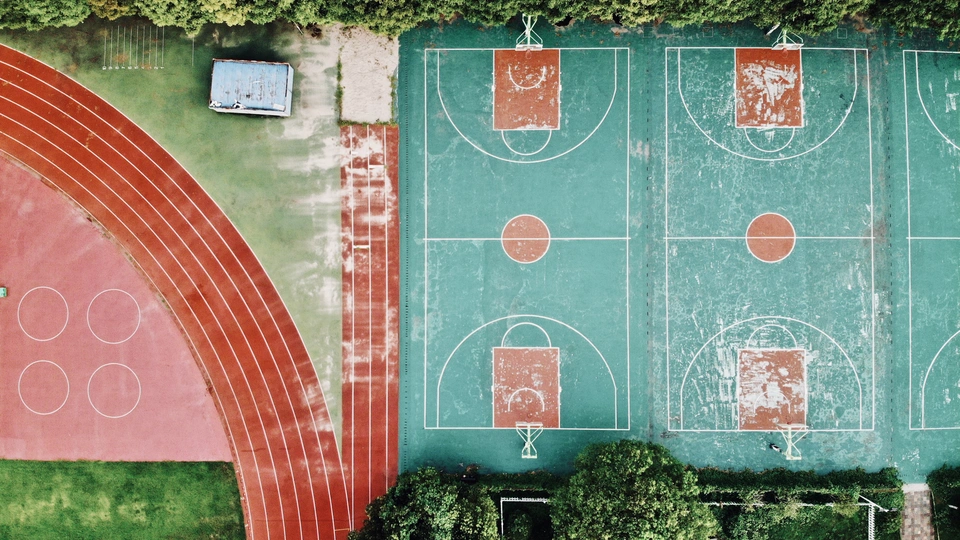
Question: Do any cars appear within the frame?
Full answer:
No, this view has no car in it.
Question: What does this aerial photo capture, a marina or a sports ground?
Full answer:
What you see here is a sports ground.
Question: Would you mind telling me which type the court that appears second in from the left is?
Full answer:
I'd say the court that appears second in from the left is a basketball court.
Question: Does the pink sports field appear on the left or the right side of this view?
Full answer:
It is on the left.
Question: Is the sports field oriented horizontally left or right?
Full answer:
The sports field oriented horizontally is on the left side of the image.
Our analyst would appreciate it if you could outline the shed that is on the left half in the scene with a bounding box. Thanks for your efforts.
[210,58,294,116]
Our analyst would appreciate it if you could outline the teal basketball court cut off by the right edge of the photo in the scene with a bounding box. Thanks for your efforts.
[903,51,960,430]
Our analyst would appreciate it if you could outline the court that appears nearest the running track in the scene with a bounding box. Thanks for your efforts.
[423,48,632,430]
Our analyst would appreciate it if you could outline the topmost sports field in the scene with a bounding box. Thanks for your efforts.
[0,157,232,461]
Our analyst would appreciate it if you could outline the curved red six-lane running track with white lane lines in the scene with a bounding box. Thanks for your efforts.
[0,42,351,540]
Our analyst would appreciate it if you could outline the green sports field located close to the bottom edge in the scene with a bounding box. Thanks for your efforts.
[0,459,248,540]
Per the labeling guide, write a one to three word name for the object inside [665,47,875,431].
basketball court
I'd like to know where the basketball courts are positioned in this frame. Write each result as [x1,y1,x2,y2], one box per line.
[665,47,875,431]
[903,51,960,430]
[423,48,632,430]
